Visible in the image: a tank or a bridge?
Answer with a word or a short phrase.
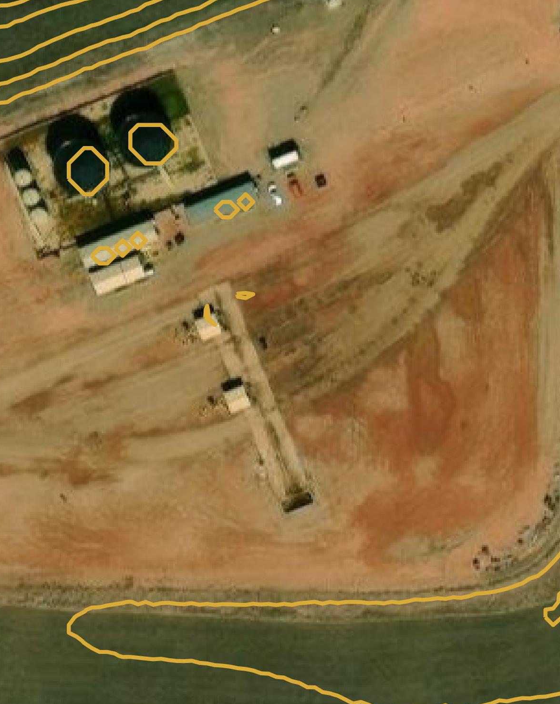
tank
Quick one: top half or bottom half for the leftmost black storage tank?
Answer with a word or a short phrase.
top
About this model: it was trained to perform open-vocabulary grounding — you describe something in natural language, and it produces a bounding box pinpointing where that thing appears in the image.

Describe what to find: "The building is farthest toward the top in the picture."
[183,181,256,222]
